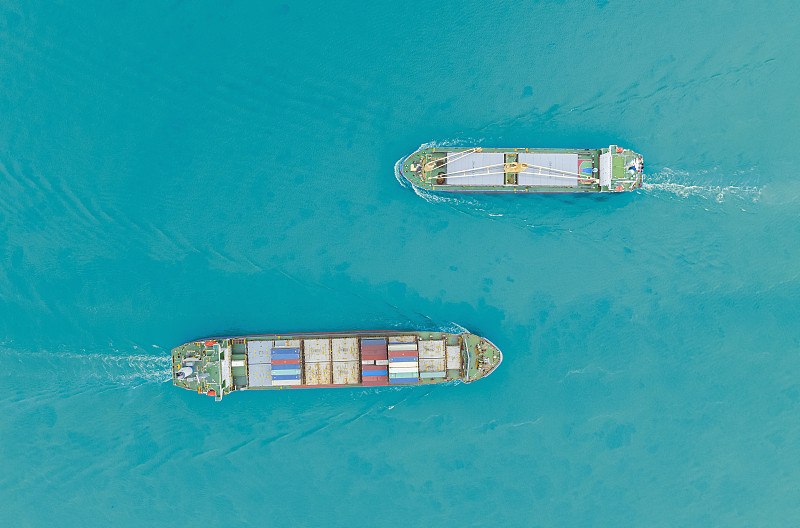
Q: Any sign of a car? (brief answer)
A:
No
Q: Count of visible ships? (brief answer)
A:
2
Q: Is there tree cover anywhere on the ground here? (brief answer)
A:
No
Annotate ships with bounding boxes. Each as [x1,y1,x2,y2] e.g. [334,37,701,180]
[171,330,503,401]
[401,144,645,194]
